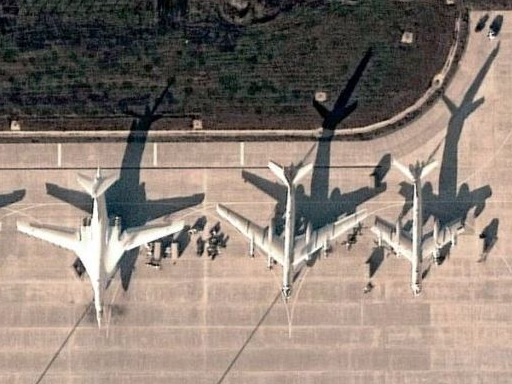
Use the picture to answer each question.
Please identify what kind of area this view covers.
airport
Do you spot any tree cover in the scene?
No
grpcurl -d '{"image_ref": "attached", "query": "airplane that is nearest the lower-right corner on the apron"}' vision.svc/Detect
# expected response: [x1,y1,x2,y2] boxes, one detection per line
[370,155,462,299]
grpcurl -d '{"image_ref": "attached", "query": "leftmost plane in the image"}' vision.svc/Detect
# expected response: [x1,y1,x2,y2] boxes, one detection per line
[19,167,180,329]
